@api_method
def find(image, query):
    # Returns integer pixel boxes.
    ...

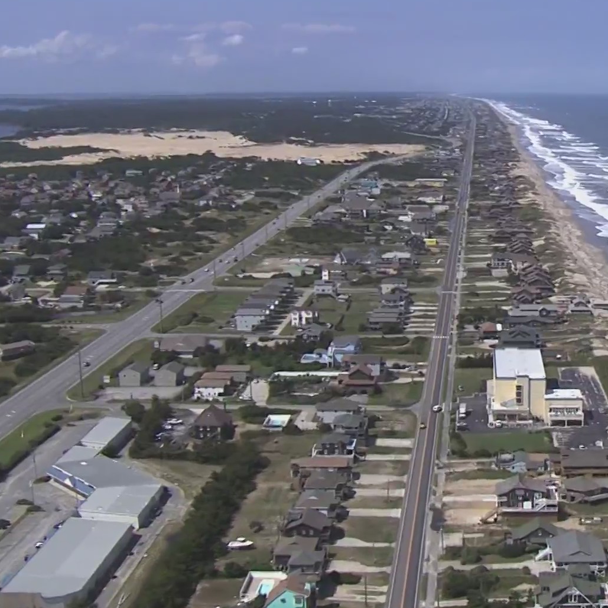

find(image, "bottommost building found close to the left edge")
[0,516,133,608]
